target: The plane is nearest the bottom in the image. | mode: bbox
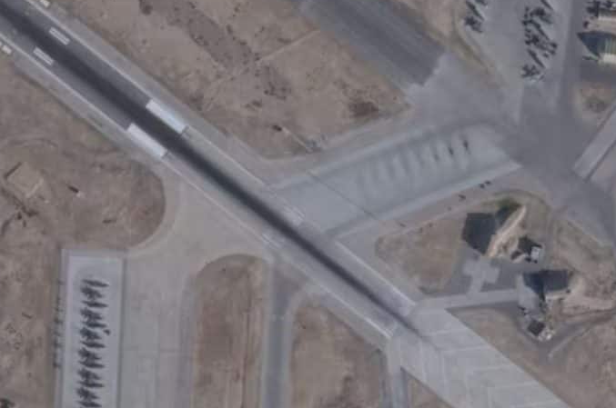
[81,388,101,404]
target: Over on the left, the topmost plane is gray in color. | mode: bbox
[86,285,106,300]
